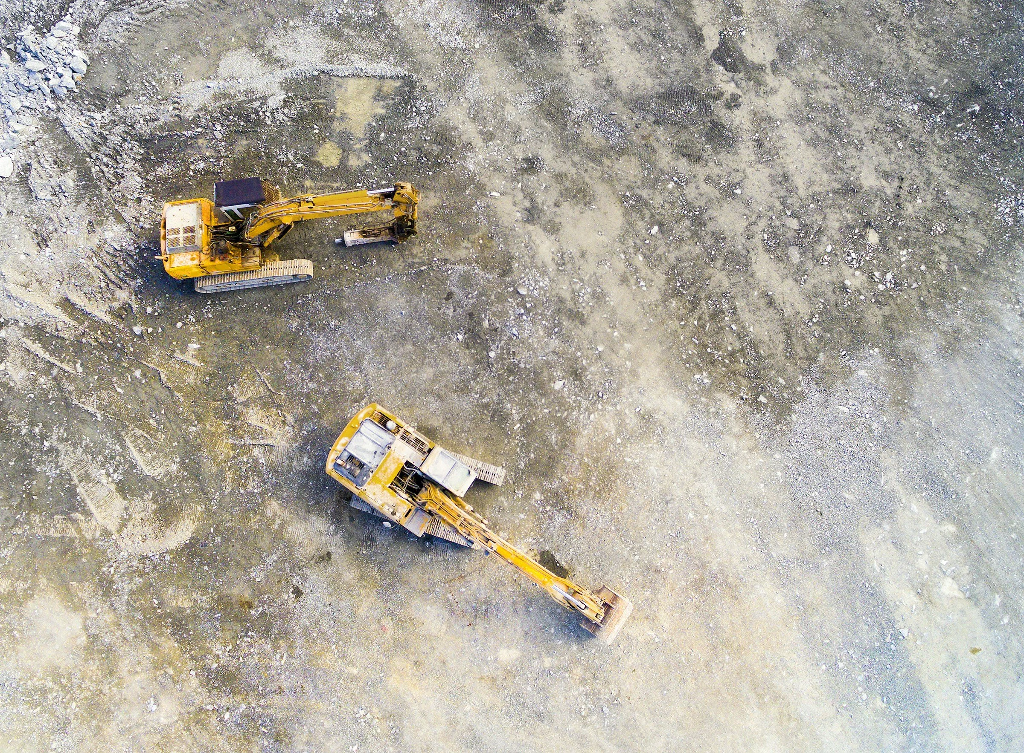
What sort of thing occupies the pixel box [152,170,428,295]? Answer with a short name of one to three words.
work vehicle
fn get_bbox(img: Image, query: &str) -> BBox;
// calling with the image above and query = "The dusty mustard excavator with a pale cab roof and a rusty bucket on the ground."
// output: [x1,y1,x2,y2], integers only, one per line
[327,405,634,644]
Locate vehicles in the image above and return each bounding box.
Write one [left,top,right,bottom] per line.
[327,405,634,644]
[152,170,428,295]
